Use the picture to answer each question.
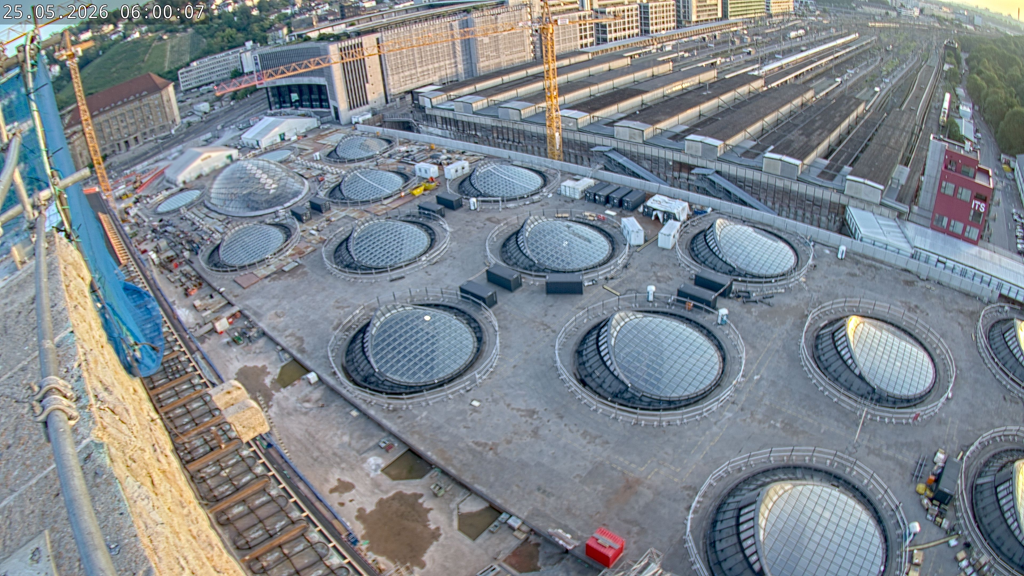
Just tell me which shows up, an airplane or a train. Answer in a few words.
train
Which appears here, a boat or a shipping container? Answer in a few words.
shipping container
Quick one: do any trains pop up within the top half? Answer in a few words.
Yes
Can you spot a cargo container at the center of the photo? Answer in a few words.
Yes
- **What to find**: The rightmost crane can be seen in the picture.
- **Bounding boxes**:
[213,0,615,161]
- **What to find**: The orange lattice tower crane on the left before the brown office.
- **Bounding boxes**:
[63,29,116,206]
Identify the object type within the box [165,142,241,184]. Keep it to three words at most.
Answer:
tent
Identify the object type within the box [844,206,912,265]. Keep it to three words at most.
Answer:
building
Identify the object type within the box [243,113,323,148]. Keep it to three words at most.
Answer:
tent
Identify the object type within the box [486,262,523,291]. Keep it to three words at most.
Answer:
shipping container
